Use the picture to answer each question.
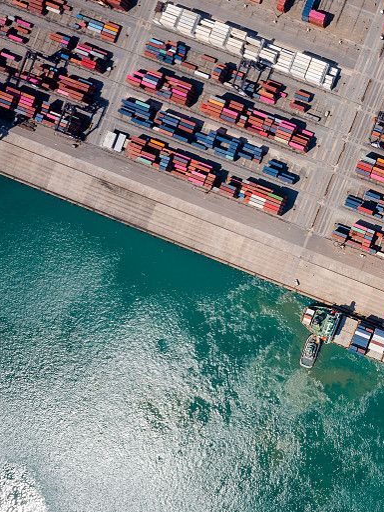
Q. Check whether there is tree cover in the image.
No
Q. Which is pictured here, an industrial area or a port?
port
